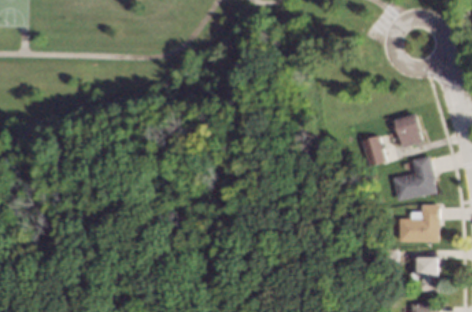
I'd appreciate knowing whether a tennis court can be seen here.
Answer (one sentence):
No, no tennis court is visible in the scene.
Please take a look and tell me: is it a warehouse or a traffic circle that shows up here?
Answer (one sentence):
There is a traffic circle in the scene.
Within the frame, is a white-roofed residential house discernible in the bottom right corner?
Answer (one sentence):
Yes, a white-roofed residential house shows up in the bottom right corner.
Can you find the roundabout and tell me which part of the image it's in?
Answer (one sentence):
The roundabout is located in the top right region of the scene.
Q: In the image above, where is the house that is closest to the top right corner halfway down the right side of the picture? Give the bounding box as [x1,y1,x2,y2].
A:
[394,114,422,146]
